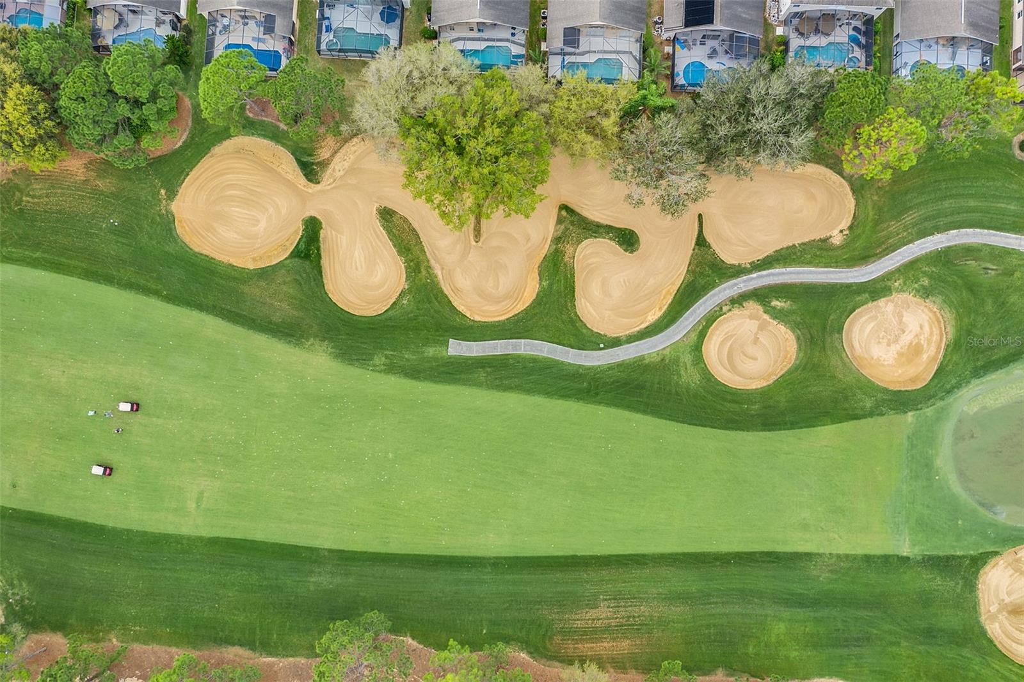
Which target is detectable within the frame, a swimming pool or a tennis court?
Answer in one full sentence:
There is a swimming pool in the scene.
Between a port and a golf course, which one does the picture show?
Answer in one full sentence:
It's a golf course.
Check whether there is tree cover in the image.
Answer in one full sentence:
Yes, the picture does contain tree cover.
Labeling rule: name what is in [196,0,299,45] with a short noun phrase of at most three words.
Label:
house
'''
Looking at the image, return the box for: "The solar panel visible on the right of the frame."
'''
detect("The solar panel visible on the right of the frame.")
[685,0,716,29]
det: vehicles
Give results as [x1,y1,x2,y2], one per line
[89,465,115,476]
[116,402,141,412]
